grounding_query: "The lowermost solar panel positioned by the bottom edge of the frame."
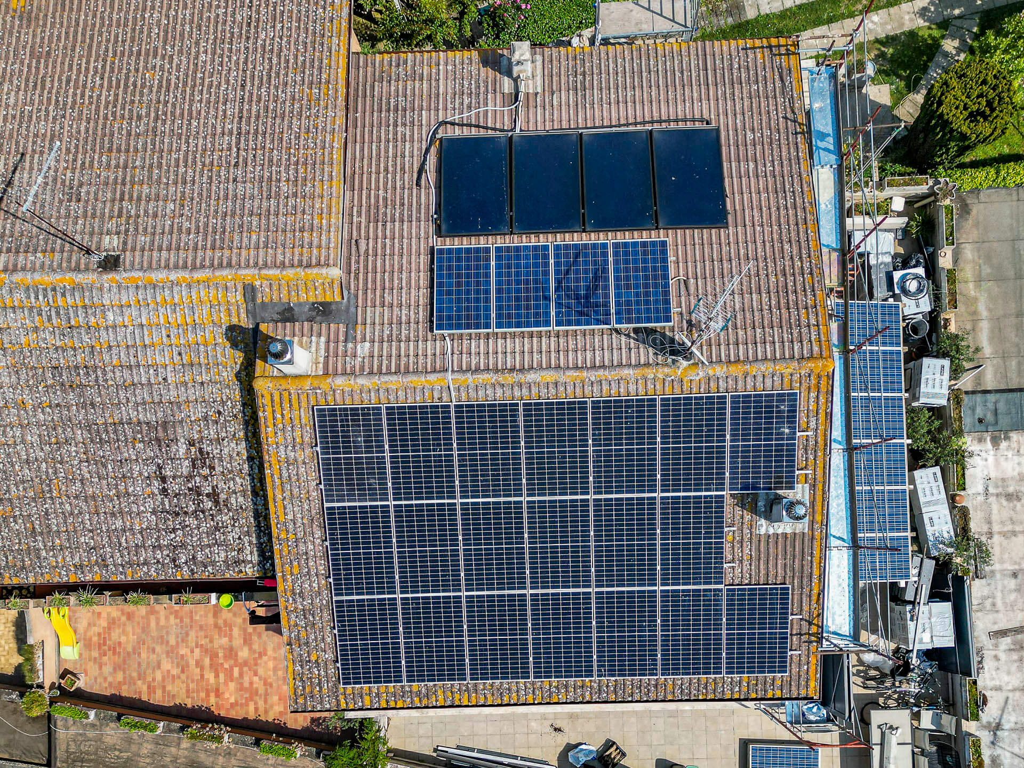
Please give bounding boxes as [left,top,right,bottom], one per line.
[748,744,821,768]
